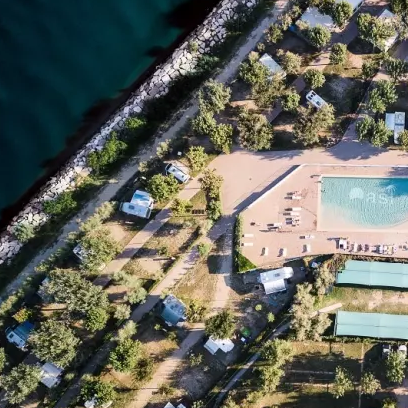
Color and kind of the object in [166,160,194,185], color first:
white vehicle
